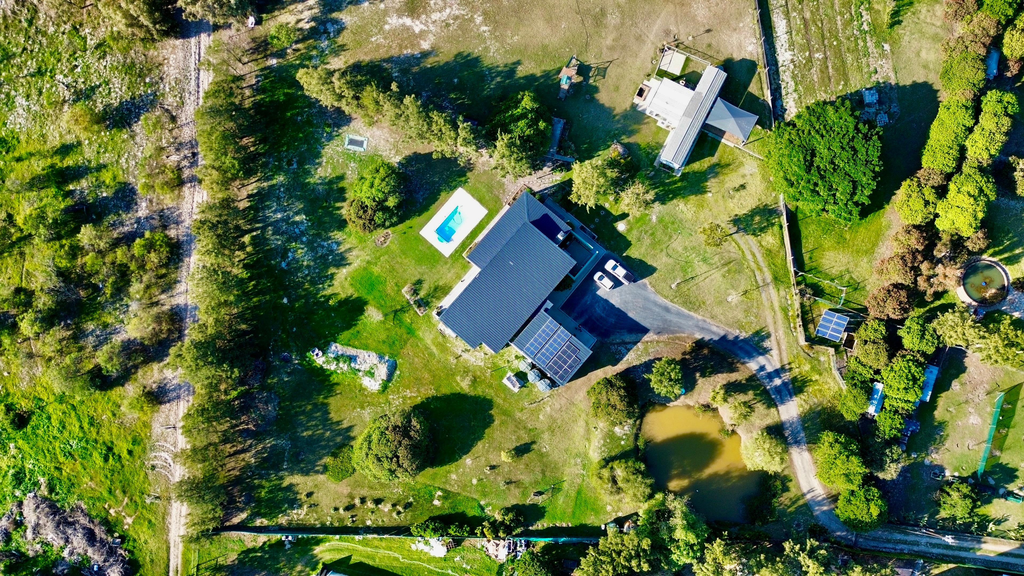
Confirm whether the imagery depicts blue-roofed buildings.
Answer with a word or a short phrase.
Yes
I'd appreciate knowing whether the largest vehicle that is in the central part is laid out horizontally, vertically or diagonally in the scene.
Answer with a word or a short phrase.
diagonally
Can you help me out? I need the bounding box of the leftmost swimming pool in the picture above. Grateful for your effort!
[419,188,488,258]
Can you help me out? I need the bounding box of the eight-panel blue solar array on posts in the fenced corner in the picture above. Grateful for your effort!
[815,310,849,341]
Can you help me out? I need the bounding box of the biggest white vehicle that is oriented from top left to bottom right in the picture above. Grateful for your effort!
[605,258,635,289]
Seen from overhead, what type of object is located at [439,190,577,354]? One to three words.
house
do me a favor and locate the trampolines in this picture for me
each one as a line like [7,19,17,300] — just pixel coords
[345,134,368,151]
